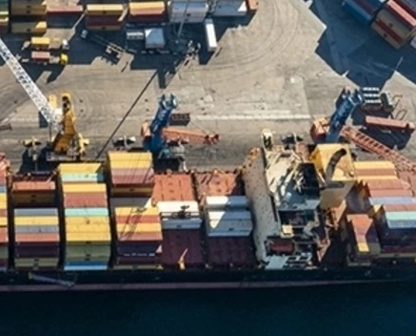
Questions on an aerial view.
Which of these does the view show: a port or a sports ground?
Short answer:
port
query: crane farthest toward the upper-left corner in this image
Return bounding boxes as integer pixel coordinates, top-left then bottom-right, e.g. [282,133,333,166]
[0,28,89,170]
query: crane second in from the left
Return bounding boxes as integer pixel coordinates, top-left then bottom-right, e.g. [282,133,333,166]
[125,90,226,168]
